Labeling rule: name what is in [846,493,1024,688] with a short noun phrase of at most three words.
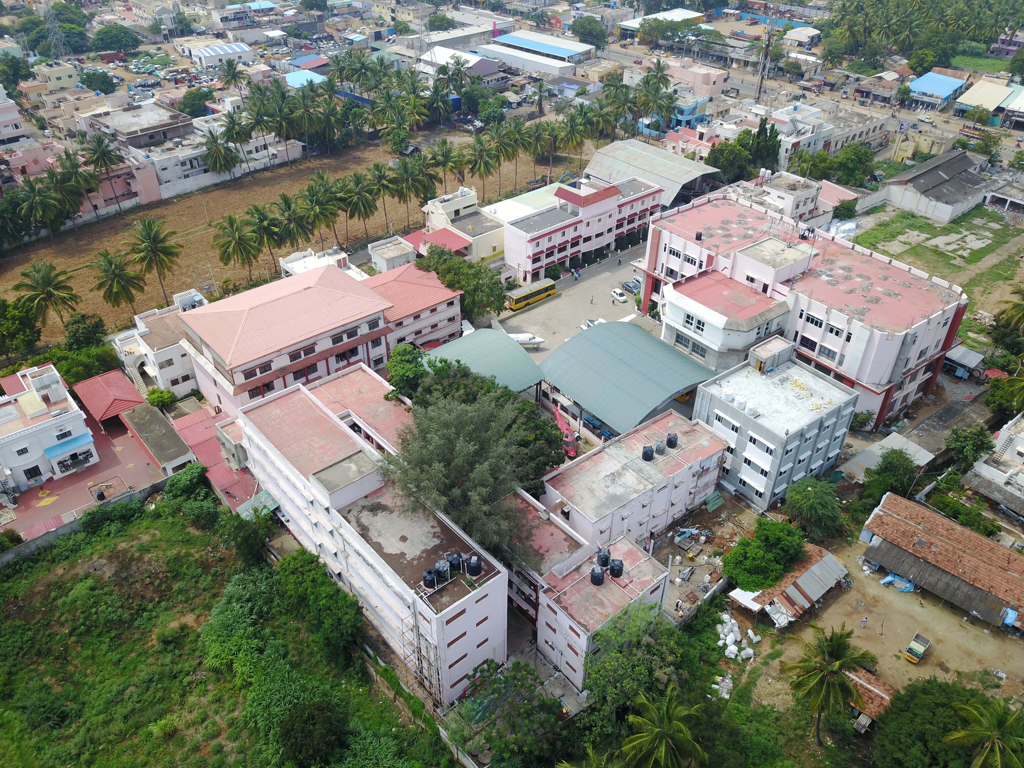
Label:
building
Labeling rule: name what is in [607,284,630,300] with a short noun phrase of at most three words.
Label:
car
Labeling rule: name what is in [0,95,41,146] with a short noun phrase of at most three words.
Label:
house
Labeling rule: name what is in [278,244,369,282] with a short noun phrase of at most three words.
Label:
house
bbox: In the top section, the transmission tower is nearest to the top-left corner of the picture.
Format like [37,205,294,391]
[39,0,77,61]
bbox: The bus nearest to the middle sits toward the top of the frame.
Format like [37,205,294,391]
[506,277,562,314]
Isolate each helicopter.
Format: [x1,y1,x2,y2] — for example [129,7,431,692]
[548,385,577,450]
